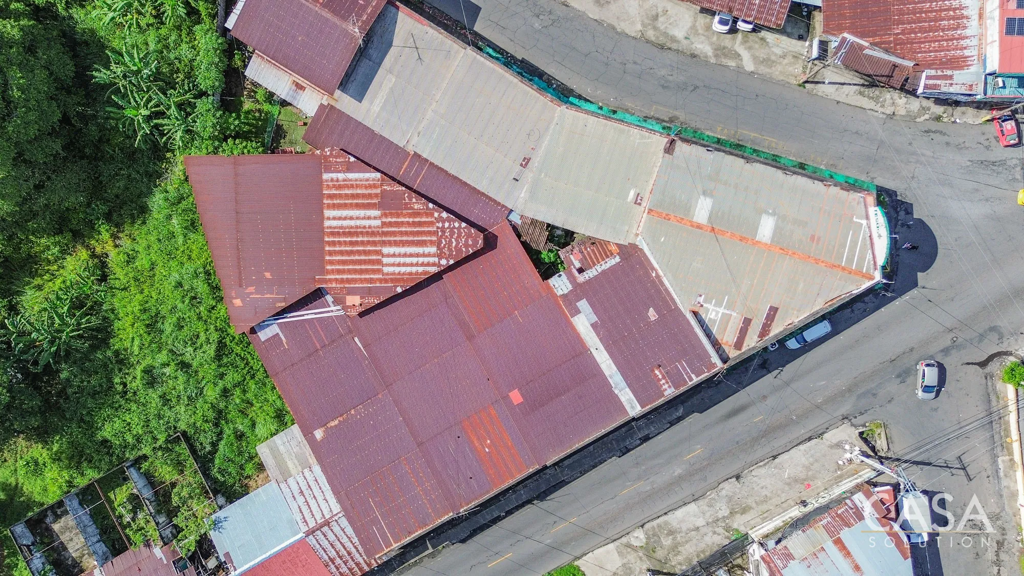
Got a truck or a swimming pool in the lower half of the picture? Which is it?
truck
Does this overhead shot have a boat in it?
No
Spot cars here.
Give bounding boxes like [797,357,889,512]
[1019,190,1024,206]
[992,108,1022,152]
[709,10,732,37]
[738,18,757,34]
[783,318,833,351]
[914,359,940,401]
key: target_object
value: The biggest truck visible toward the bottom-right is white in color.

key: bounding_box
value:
[894,490,931,546]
